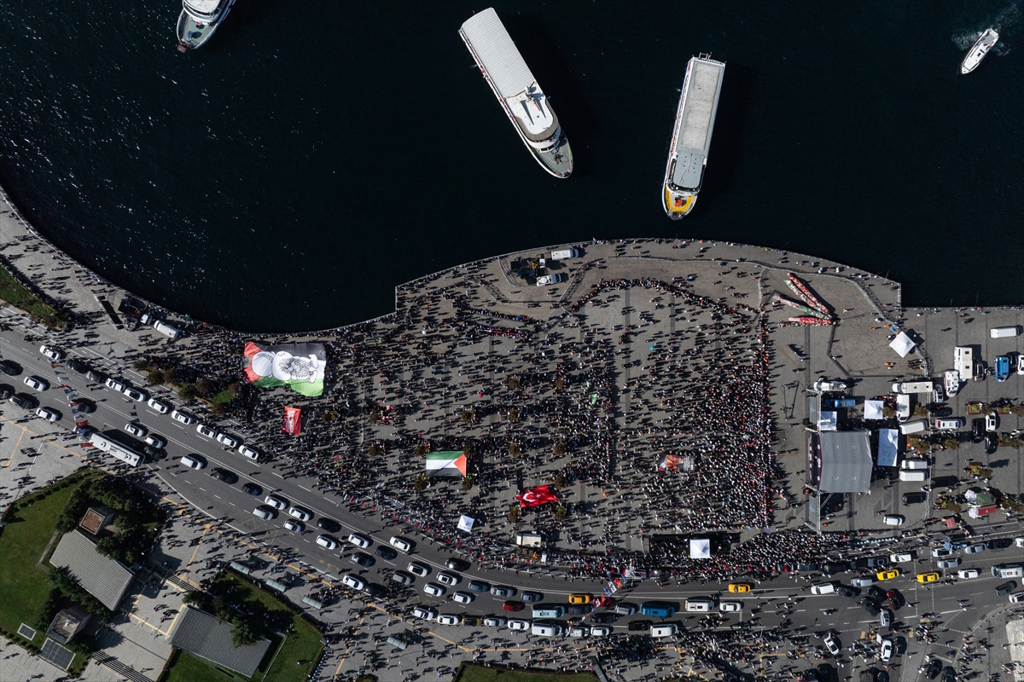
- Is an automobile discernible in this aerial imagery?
Yes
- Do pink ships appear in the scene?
No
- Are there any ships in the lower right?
No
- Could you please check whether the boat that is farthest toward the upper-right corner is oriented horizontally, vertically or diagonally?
diagonally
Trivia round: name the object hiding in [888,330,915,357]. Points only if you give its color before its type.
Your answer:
white tent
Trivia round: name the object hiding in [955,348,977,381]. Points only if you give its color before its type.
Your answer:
white camper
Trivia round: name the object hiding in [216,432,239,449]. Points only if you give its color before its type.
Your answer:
white car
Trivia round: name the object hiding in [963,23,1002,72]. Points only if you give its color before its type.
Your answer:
white boat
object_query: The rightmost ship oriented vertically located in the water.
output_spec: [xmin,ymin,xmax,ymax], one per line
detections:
[665,49,729,223]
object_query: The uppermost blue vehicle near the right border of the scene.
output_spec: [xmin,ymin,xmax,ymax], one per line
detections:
[993,354,1012,381]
